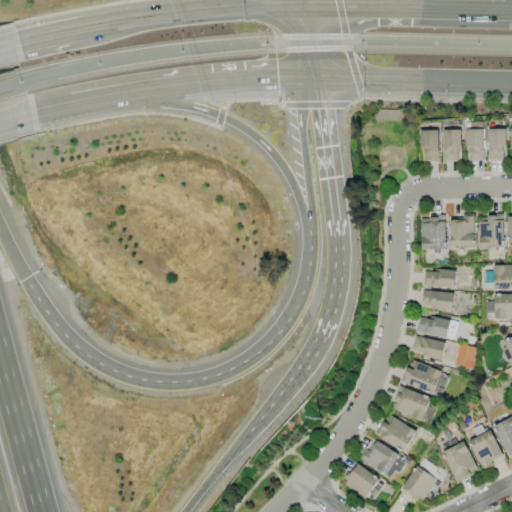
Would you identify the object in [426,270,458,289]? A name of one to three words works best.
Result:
house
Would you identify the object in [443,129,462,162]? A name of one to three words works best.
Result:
house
